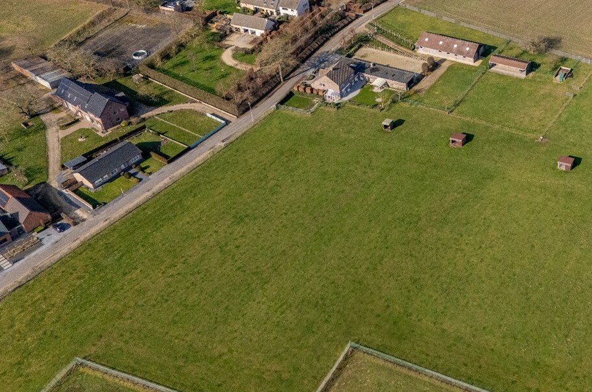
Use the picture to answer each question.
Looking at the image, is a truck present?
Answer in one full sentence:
No, this view has no truck in it.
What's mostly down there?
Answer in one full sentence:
What you mostly see from above here is grass.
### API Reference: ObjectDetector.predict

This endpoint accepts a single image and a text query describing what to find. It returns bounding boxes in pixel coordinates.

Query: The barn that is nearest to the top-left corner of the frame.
[9,50,71,90]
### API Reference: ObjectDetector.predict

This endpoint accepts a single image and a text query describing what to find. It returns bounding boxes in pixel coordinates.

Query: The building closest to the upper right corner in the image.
[486,53,533,79]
